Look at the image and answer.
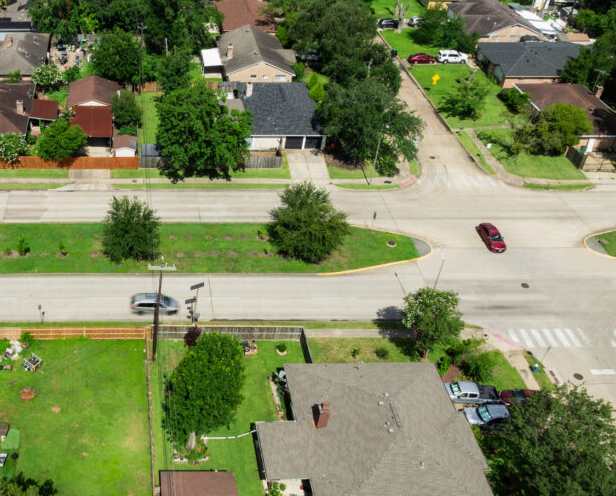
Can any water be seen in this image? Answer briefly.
No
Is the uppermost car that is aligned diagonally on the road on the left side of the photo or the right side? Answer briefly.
right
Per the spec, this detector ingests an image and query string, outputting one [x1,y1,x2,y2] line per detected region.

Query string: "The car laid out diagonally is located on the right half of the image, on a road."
[473,225,509,251]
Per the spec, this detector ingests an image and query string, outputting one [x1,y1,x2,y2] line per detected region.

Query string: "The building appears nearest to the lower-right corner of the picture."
[256,362,481,496]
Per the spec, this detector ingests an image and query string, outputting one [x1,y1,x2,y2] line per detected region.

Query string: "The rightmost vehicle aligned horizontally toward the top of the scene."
[438,50,466,62]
